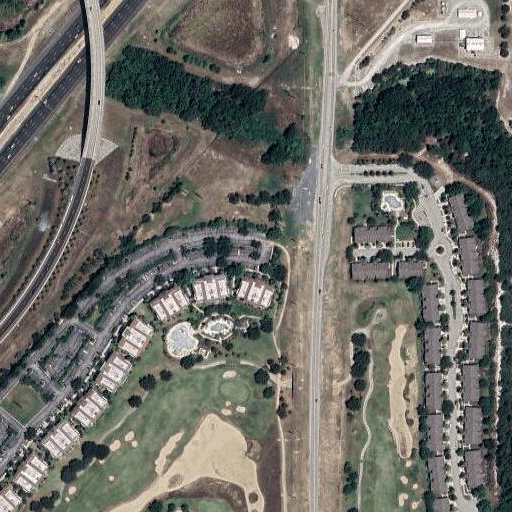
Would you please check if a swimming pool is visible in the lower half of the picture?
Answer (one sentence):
Yes, the scene does show a swimming pool in the lower half of the picture.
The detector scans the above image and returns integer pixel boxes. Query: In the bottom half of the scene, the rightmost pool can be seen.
[206,319,232,336]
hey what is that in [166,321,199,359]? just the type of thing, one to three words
swimming pool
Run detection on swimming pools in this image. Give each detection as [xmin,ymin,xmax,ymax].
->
[206,319,232,336]
[166,321,199,359]
[381,192,405,211]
